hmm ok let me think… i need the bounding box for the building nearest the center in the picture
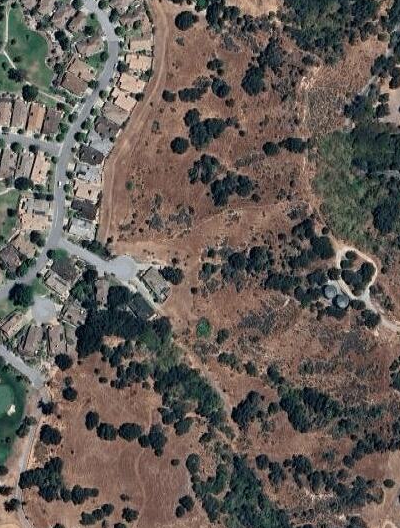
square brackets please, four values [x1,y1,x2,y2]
[143,270,170,296]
